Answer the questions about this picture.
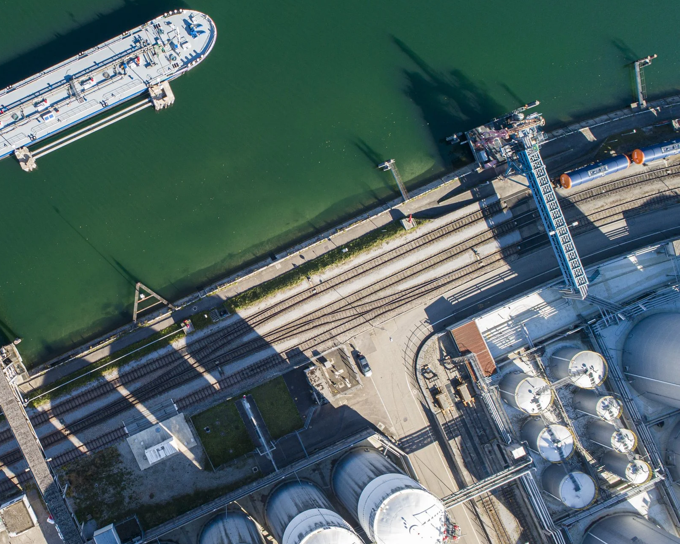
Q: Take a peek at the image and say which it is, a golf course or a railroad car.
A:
railroad car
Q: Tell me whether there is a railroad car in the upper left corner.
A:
No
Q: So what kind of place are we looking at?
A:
industrial area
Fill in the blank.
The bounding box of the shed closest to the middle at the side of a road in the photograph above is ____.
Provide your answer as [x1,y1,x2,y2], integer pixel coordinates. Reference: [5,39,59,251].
[303,363,335,407]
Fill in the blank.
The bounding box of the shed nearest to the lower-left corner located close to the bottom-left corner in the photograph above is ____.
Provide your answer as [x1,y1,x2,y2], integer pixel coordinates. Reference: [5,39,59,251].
[0,495,37,538]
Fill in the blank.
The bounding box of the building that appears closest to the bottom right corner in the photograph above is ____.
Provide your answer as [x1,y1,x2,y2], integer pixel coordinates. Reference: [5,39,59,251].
[499,440,540,469]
